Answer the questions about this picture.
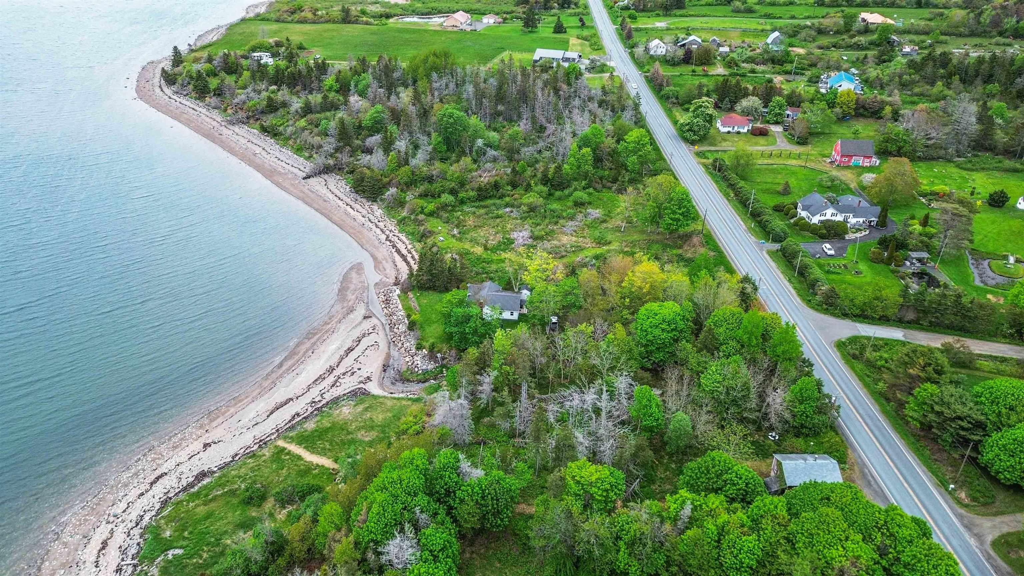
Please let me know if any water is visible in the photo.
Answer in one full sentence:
Yes, there is water in the image.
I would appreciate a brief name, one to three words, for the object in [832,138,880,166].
barn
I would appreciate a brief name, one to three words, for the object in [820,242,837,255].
vehicle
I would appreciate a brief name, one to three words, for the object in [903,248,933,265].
building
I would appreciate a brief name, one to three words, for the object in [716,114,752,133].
house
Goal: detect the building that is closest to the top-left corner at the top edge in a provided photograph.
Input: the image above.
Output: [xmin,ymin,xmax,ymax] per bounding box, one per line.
[441,10,473,27]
